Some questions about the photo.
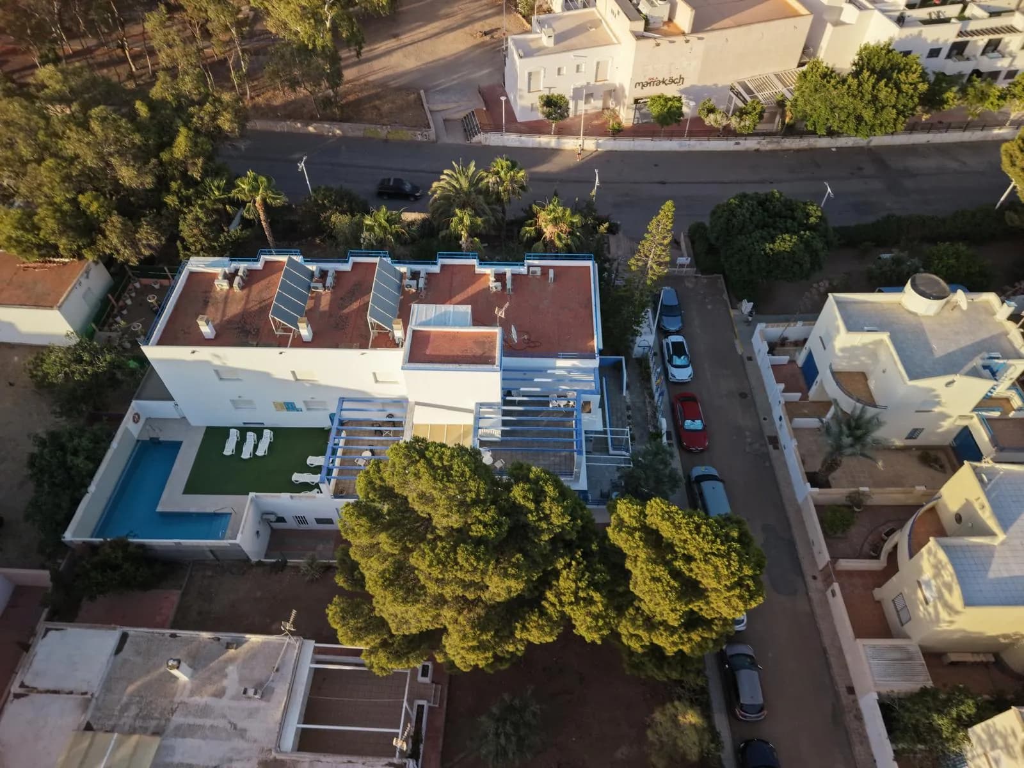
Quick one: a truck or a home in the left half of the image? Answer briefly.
home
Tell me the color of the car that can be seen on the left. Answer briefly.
black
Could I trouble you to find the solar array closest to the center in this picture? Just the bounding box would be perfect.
[368,256,403,349]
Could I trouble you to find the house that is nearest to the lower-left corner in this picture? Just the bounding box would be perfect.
[0,623,301,768]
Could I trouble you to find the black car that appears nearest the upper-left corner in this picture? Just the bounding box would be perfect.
[371,175,427,205]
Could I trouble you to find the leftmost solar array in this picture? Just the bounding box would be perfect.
[268,256,315,346]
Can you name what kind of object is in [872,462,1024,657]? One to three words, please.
house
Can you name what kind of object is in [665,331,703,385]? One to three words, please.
car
